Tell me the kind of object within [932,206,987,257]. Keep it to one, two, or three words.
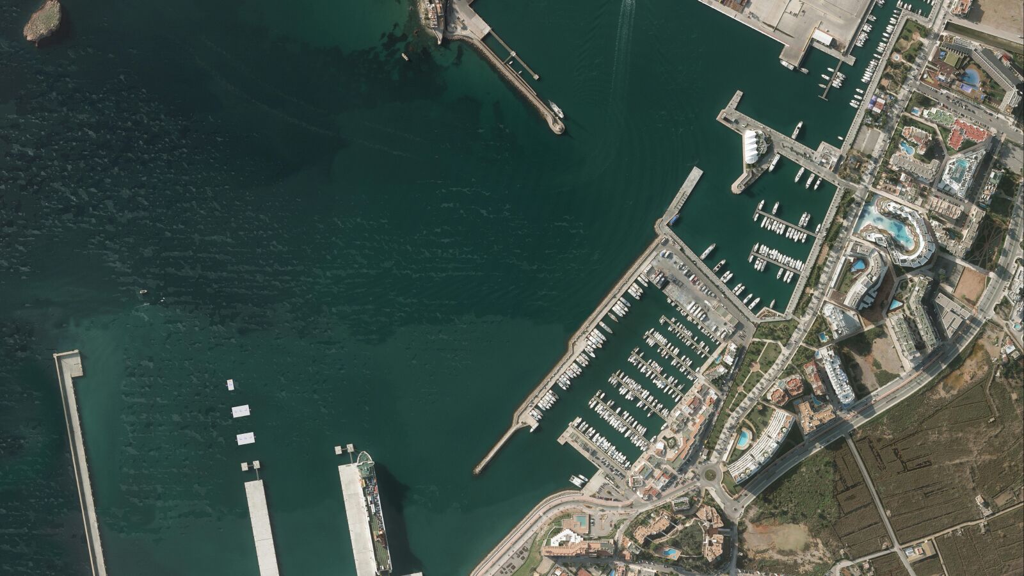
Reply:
building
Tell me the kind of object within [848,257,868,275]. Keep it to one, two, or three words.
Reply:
swimming pool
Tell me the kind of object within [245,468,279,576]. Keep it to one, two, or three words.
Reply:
pier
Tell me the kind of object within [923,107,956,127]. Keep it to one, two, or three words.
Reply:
building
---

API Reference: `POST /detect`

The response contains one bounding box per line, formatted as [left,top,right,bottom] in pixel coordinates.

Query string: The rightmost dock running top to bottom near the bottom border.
[339,452,376,576]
